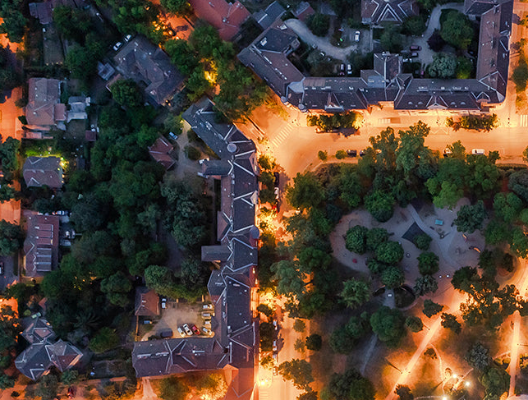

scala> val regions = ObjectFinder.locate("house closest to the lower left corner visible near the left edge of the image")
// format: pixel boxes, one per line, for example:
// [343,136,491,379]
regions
[17,313,90,382]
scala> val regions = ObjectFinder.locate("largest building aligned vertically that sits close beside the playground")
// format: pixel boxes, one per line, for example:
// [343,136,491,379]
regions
[201,106,263,382]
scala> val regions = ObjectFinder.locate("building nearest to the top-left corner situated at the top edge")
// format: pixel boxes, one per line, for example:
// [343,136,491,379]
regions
[30,0,56,26]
